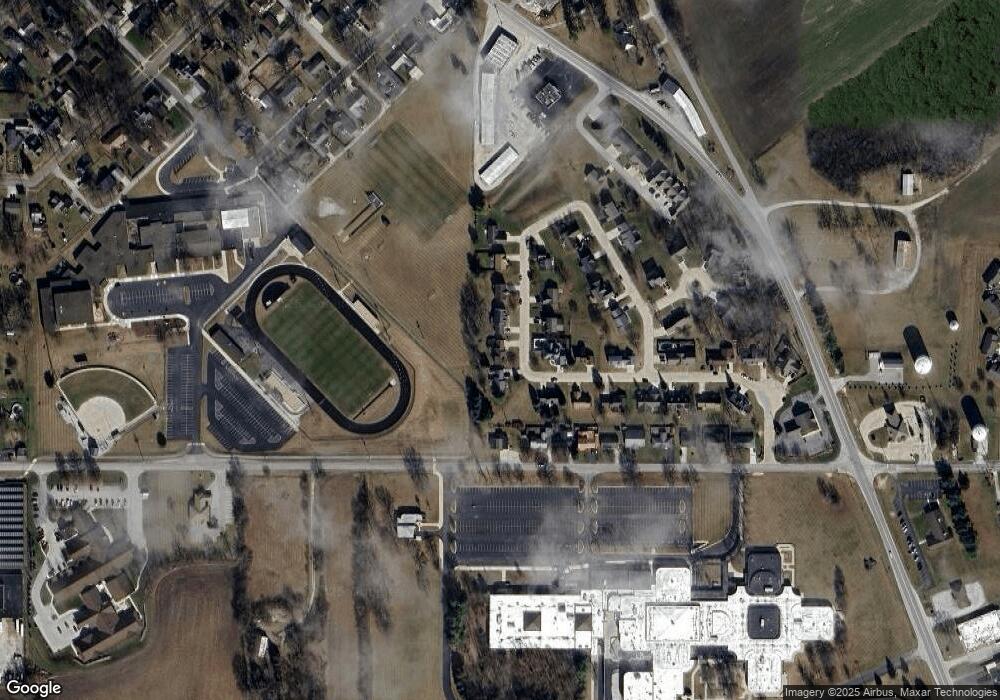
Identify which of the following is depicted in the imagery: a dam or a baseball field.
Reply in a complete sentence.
This aerial view contains a baseball field.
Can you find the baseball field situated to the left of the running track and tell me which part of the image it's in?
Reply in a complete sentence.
You can find the baseball field situated to the left of the running track in the left area of the picture.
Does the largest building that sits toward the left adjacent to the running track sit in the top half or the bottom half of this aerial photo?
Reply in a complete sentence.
The largest building that sits toward the left adjacent to the running track sits in the top half of the picture.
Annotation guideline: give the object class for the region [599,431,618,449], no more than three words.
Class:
house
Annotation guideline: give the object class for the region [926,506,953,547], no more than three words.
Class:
building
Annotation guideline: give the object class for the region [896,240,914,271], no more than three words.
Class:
barn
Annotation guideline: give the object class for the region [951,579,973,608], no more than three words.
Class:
building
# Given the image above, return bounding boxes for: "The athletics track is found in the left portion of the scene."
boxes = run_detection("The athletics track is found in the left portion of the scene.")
[217,265,410,434]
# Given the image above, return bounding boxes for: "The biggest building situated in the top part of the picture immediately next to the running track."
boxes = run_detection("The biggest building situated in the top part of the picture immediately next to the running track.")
[73,198,262,279]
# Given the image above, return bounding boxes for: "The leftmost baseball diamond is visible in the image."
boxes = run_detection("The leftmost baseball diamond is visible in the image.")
[57,369,159,457]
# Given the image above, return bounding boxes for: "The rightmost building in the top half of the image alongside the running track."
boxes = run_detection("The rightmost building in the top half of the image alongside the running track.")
[285,224,317,257]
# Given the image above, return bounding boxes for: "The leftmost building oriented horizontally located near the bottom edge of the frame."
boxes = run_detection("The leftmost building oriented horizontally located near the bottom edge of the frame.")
[490,548,835,700]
